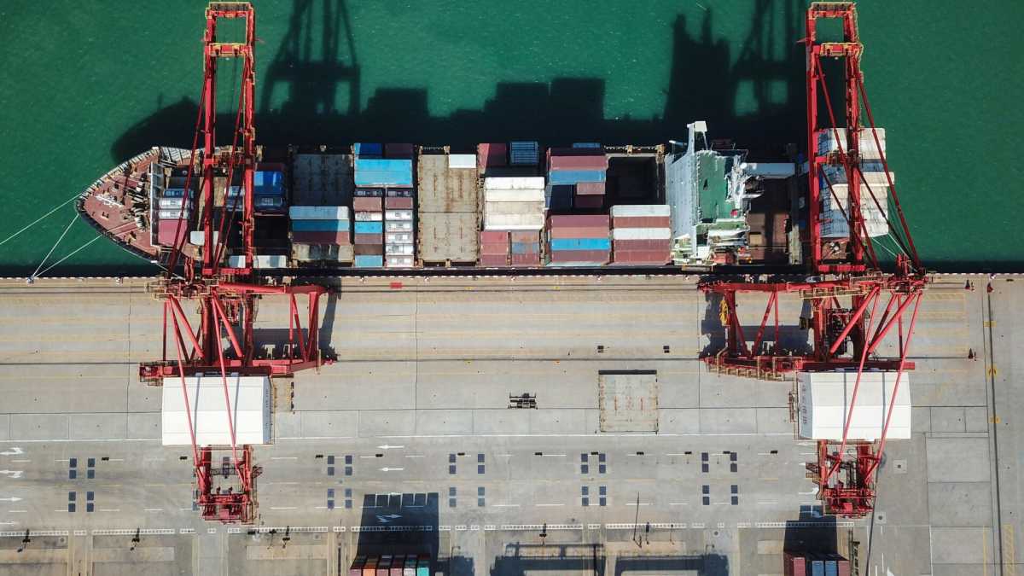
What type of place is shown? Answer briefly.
port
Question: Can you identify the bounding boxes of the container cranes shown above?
[138,1,351,525]
[692,5,940,517]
